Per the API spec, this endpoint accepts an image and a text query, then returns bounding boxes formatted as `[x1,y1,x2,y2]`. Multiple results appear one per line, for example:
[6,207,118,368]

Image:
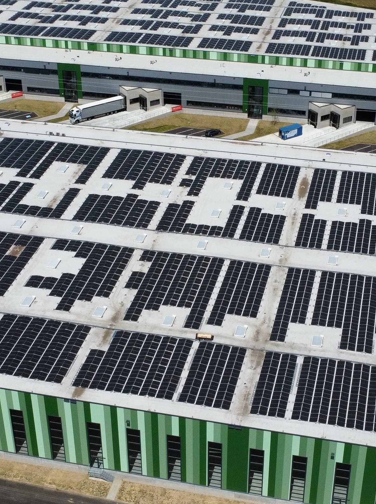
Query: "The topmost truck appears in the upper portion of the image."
[66,95,123,123]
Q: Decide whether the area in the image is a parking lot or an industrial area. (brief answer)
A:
industrial area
